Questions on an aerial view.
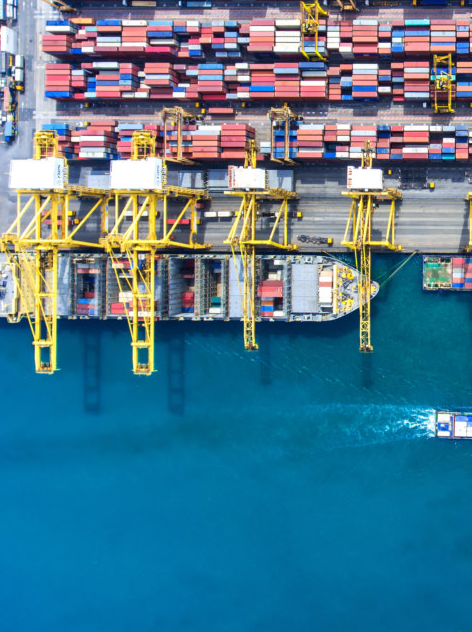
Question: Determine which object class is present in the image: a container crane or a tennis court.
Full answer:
It is a container crane that can be seen here.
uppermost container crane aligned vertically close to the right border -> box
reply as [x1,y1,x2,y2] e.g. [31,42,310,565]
[430,52,455,115]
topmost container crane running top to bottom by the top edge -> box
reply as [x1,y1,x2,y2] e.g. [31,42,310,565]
[299,0,330,66]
